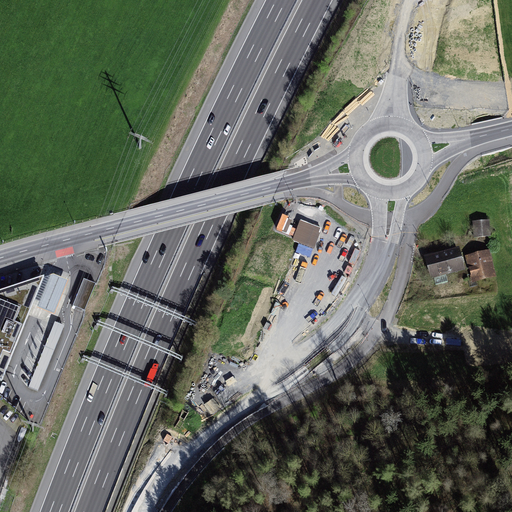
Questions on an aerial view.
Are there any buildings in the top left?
No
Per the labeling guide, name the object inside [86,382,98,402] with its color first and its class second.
white vehicle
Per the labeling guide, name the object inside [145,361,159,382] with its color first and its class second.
red vehicle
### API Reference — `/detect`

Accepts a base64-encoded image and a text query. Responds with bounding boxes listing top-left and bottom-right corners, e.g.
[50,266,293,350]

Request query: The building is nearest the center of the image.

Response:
[293,220,320,250]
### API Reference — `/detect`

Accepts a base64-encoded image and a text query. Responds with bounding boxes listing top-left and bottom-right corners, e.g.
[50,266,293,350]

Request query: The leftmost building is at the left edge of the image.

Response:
[0,275,44,384]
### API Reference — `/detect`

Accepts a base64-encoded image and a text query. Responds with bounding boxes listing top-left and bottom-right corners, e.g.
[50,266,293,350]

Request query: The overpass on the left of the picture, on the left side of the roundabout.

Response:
[100,168,292,248]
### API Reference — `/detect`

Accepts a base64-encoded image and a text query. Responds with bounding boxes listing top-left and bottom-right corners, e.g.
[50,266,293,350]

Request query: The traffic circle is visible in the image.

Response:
[348,116,432,200]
